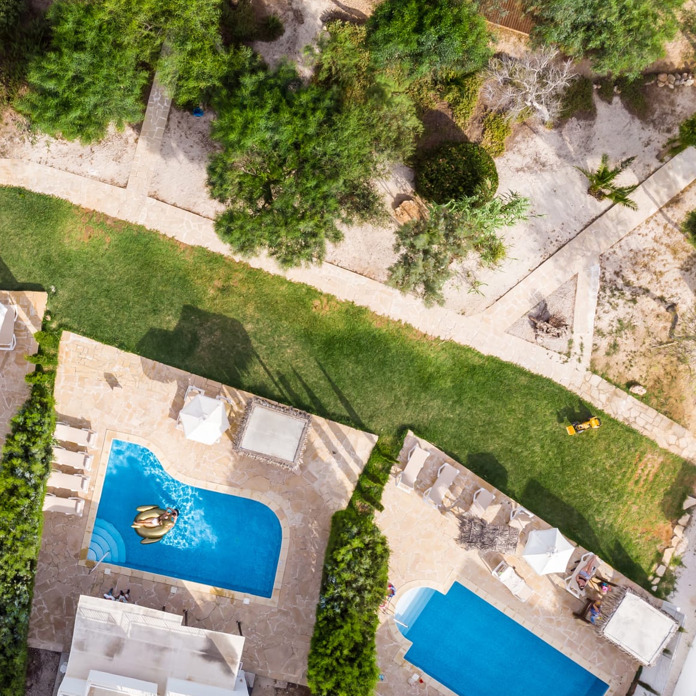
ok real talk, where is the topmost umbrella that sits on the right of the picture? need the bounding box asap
[515,525,568,575]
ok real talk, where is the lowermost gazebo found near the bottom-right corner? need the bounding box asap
[574,577,683,671]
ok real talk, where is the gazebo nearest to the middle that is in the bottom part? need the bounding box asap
[229,394,318,473]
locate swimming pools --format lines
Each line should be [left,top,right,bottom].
[79,431,291,608]
[387,571,620,696]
